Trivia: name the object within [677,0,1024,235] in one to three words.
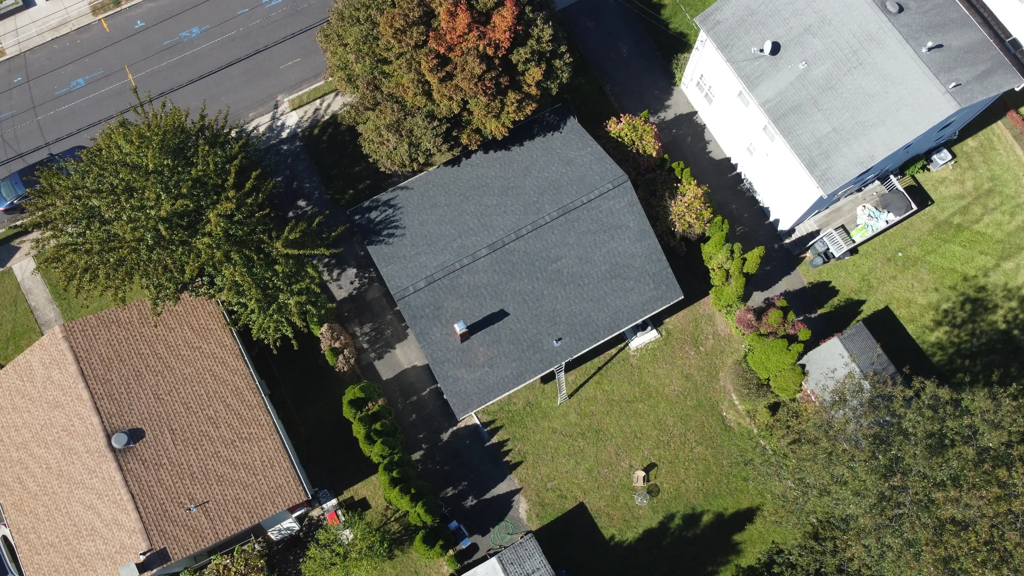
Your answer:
house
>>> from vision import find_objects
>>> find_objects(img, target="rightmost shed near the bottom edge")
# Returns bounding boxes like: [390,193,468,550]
[461,533,555,576]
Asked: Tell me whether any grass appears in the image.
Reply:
Yes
